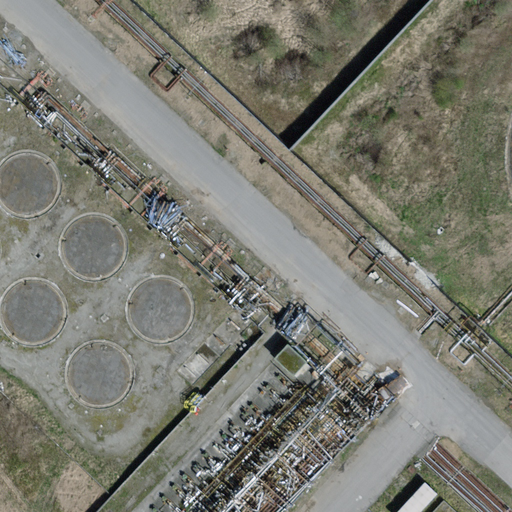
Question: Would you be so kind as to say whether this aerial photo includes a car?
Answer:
No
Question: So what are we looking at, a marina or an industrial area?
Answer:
industrial area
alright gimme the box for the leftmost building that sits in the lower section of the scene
[272,344,312,381]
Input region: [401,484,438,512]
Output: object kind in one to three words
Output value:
shed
